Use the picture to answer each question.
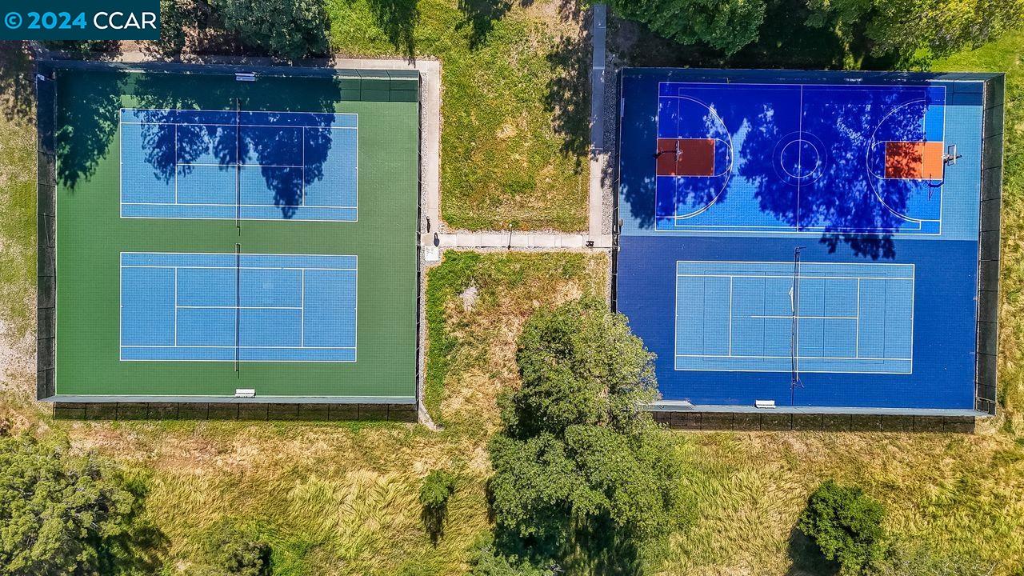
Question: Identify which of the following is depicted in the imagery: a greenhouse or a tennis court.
tennis court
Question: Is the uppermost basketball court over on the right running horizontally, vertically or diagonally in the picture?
horizontally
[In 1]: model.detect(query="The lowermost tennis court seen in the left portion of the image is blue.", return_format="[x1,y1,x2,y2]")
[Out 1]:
[120,253,357,363]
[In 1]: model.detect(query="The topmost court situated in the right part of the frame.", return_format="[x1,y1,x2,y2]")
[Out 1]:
[656,82,945,235]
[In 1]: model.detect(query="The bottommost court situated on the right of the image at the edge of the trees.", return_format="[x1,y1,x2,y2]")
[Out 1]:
[675,261,915,373]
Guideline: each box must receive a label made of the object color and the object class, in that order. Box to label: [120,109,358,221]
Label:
blue tennis court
